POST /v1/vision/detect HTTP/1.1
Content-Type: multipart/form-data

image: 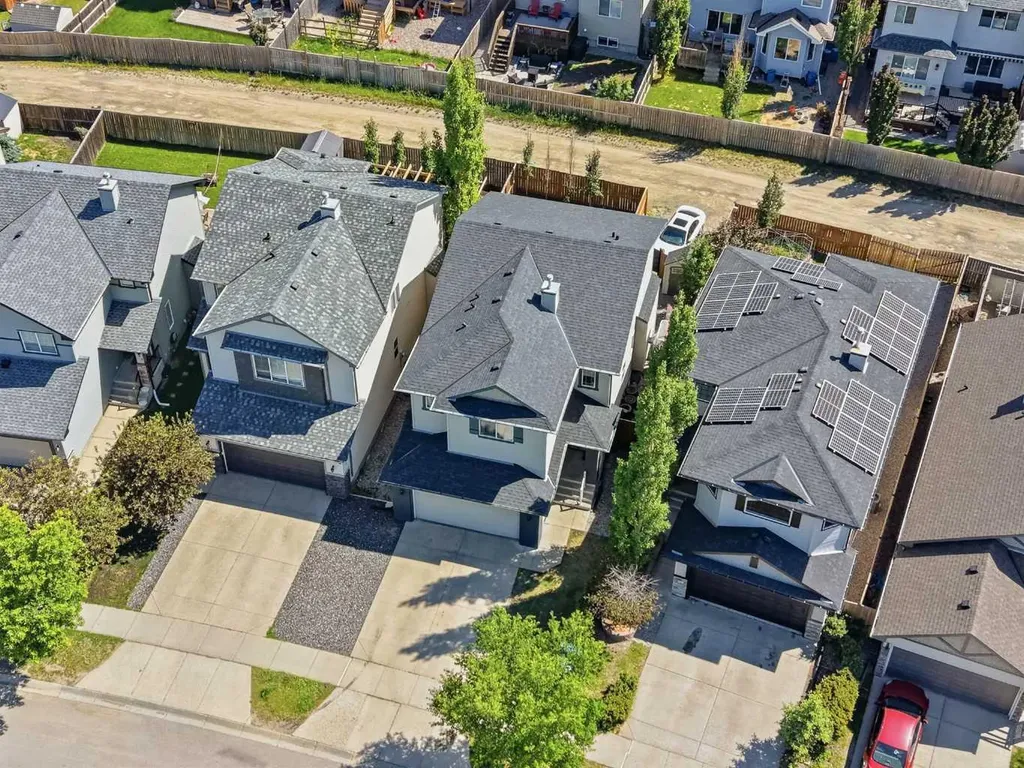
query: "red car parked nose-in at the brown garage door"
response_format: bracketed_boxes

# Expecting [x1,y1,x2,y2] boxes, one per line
[862,675,930,768]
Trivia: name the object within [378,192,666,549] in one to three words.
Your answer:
house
